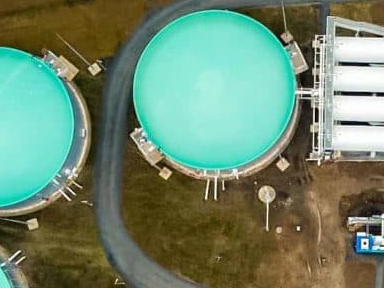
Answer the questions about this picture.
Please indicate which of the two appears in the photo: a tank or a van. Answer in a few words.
tank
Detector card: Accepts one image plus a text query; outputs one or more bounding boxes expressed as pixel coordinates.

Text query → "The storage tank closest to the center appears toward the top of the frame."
[127,10,311,202]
